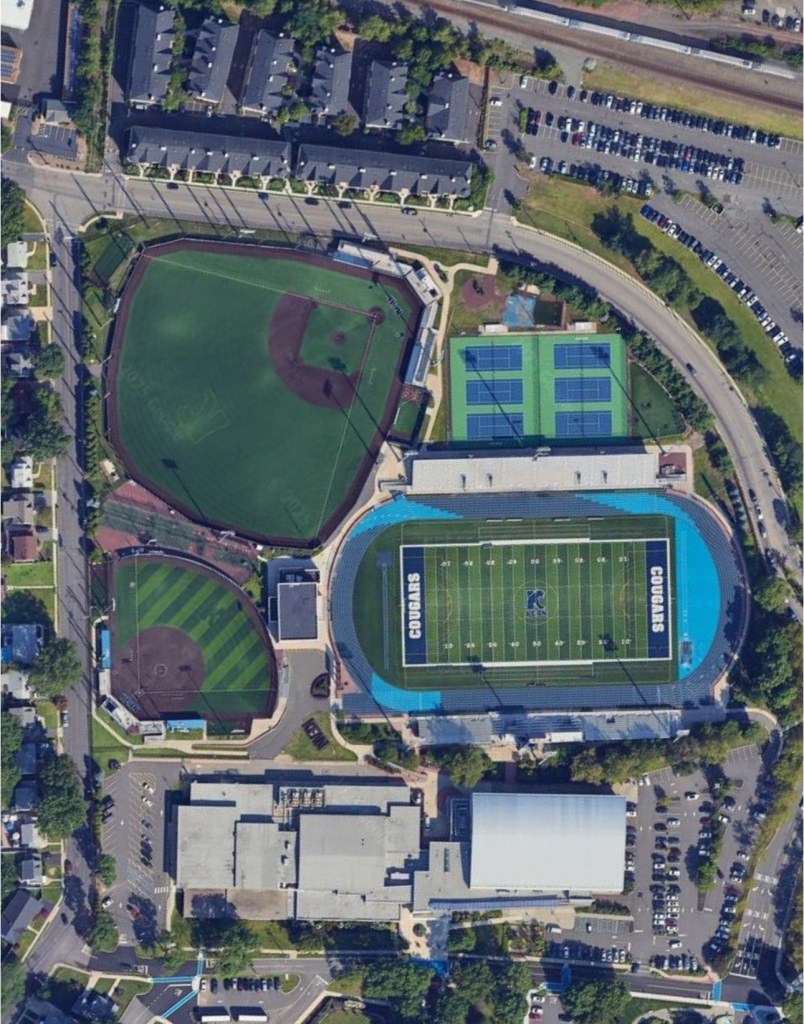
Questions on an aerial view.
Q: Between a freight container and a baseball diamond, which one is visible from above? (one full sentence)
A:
Visible in the photo is a baseball diamond.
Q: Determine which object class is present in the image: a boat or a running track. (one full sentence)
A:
Of the two, only a running track appears.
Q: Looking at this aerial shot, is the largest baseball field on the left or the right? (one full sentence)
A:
You can find the largest baseball field on the left side of the picture.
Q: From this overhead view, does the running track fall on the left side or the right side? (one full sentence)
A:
You can find the running track on the right side of the picture.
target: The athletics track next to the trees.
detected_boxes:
[331,491,746,717]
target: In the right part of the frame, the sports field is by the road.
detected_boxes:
[356,516,677,690]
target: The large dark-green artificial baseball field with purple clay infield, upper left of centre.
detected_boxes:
[104,239,424,547]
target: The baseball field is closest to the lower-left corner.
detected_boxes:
[110,549,276,728]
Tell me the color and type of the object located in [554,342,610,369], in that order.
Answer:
blue tennis court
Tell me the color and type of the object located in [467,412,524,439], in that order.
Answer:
blue tennis court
